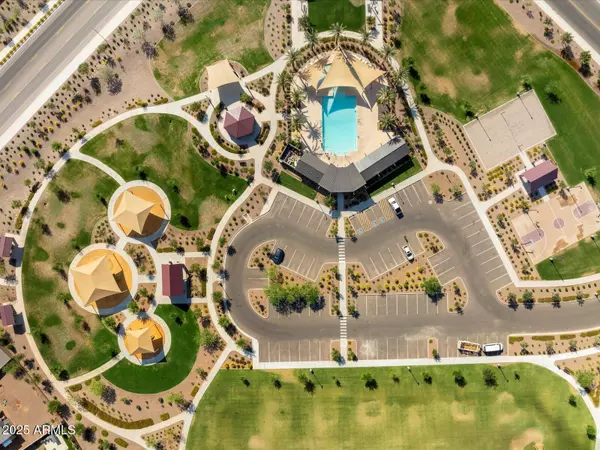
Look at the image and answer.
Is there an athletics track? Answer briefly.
No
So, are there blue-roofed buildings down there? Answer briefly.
No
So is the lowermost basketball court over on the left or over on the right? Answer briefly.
right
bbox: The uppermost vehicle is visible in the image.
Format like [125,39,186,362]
[390,196,405,216]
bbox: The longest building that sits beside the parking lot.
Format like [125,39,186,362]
[281,137,409,192]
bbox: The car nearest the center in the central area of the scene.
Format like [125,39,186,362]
[271,247,284,265]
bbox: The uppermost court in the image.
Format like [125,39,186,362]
[463,89,558,171]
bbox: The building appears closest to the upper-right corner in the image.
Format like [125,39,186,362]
[519,161,559,192]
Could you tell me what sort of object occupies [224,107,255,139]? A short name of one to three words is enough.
building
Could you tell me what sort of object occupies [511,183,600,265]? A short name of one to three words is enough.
basketball court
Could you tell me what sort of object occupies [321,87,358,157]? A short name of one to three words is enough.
swimming pool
